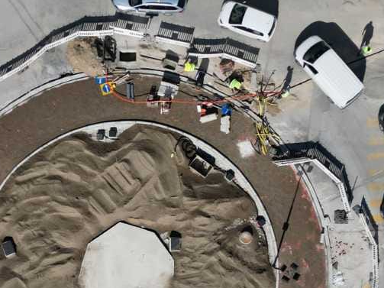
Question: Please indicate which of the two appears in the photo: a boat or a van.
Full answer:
The one in the frame is a van.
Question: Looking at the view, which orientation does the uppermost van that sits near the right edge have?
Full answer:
From this overhead view, the uppermost van that sits near the right edge appears to run on a diagonal.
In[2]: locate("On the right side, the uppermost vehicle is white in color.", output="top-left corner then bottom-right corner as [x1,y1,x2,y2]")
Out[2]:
[216,0,279,42]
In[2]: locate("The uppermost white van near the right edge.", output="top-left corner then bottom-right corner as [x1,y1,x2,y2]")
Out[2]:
[295,31,366,110]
